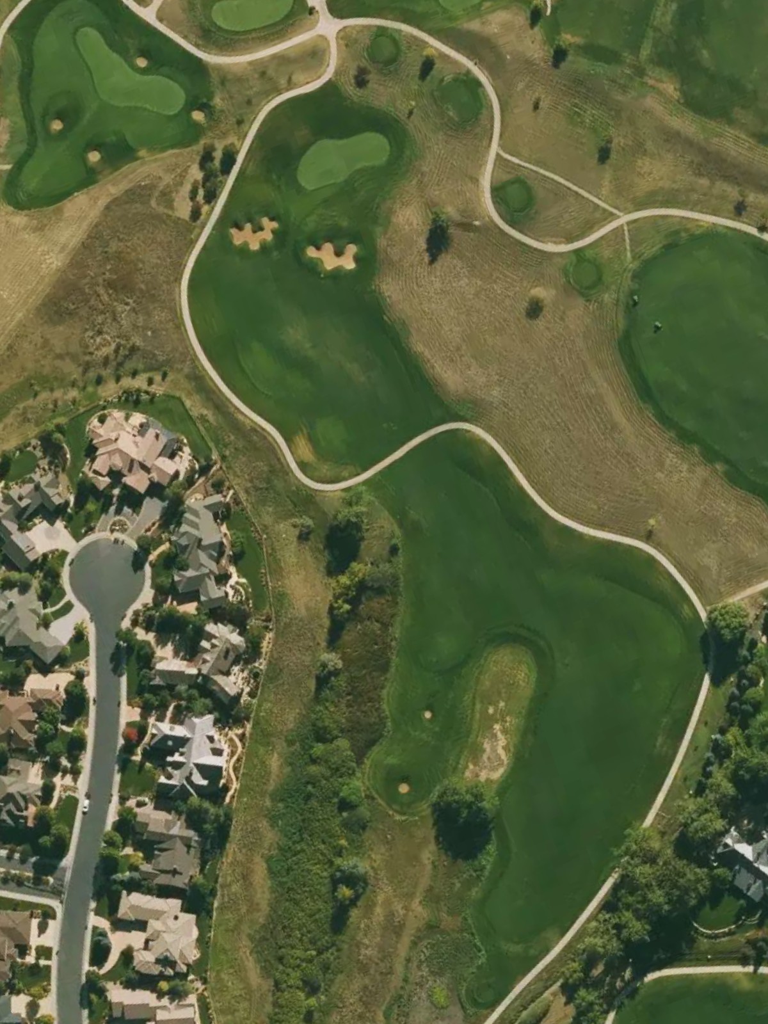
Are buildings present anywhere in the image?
Yes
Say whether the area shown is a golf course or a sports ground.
golf course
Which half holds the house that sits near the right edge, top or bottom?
bottom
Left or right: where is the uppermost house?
left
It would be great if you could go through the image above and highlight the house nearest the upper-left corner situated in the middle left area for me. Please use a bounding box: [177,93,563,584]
[89,412,180,493]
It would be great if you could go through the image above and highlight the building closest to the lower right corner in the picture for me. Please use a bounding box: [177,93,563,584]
[715,830,768,903]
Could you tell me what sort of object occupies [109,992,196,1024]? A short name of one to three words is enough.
house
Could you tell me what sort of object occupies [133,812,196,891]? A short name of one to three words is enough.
house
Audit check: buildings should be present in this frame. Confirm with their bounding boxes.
[0,688,63,750]
[0,996,22,1024]
[133,812,196,891]
[149,713,226,803]
[0,580,62,665]
[151,620,245,702]
[715,830,768,903]
[171,491,227,610]
[0,476,60,570]
[0,759,41,828]
[89,412,180,493]
[0,912,30,982]
[109,992,196,1024]
[116,894,201,979]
